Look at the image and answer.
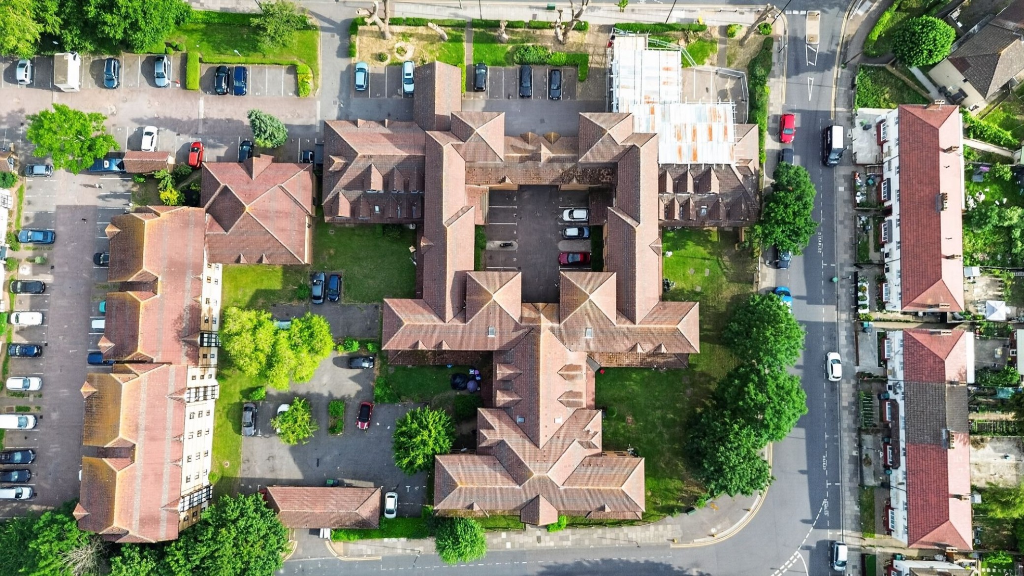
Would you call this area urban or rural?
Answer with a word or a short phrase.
urban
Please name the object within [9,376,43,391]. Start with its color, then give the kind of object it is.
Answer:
white car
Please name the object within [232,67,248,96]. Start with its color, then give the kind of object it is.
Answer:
blue car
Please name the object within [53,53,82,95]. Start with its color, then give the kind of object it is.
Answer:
white van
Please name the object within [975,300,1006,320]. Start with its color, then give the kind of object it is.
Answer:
white gazebo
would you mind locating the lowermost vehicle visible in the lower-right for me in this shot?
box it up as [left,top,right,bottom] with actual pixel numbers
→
[829,540,846,570]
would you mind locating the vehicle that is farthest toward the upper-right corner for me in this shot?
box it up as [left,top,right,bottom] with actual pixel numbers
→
[821,124,845,165]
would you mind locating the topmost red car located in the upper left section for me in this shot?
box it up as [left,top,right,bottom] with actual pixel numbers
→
[188,141,206,170]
